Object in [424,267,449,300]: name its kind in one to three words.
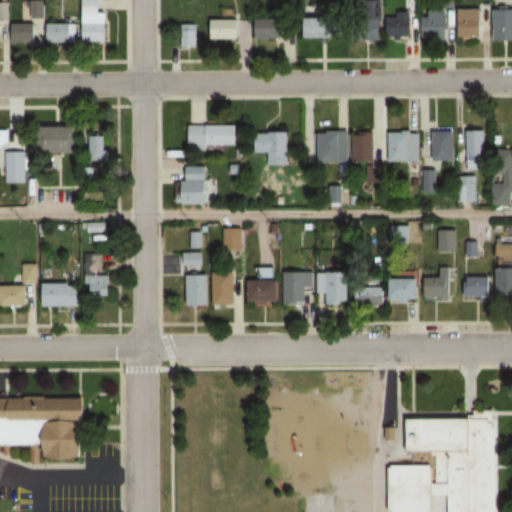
house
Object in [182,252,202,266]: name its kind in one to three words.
building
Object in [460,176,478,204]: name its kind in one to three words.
building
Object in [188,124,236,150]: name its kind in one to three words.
house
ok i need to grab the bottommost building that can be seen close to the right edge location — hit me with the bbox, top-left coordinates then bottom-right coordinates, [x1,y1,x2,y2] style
[388,418,498,512]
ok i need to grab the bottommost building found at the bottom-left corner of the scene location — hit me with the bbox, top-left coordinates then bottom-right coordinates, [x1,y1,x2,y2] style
[0,396,80,463]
